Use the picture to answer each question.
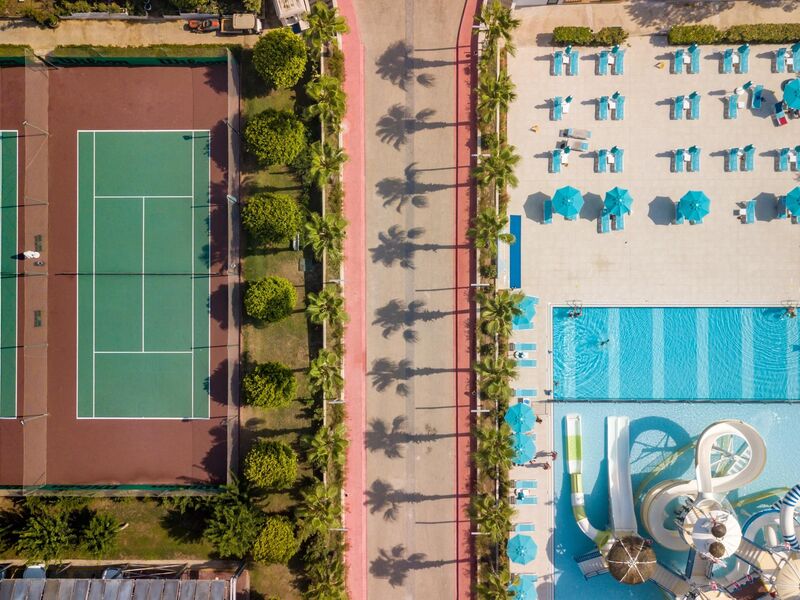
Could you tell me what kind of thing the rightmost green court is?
tennis court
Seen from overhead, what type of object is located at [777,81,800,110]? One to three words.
umbrella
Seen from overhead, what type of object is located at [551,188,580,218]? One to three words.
umbrella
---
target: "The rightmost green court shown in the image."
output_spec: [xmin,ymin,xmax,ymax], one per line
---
[48,68,238,485]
